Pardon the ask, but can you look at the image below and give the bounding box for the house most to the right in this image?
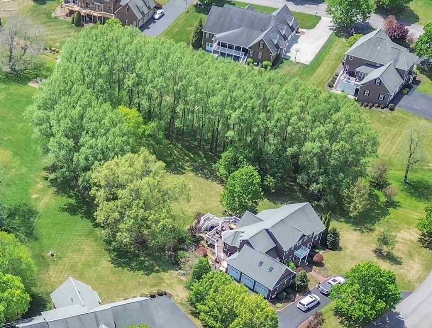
[334,24,422,107]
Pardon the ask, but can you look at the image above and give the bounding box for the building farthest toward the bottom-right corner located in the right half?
[198,203,323,299]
